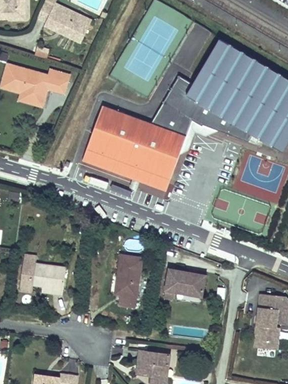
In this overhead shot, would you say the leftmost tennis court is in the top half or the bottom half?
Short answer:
top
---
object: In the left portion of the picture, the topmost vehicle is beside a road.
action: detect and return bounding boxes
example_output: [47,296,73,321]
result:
[86,176,110,189]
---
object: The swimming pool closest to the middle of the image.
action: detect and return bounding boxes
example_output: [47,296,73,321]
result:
[124,237,144,252]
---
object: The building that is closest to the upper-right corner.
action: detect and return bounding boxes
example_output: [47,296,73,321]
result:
[188,40,288,152]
